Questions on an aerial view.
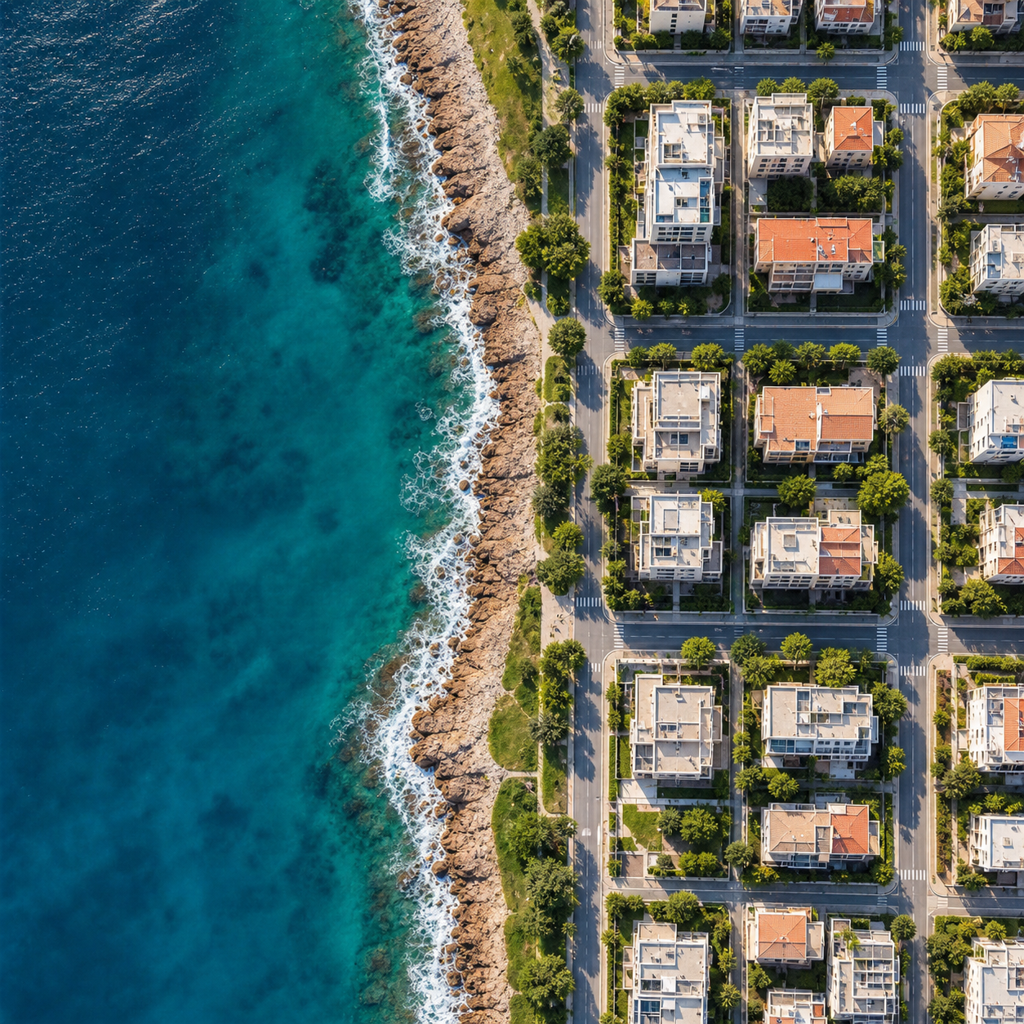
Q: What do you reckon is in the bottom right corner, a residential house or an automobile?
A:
residential house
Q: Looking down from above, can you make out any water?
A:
Yes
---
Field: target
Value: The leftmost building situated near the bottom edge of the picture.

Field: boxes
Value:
[622,923,709,1024]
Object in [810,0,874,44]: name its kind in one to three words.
house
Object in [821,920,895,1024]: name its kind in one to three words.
building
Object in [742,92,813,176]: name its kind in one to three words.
building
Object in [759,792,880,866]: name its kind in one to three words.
house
